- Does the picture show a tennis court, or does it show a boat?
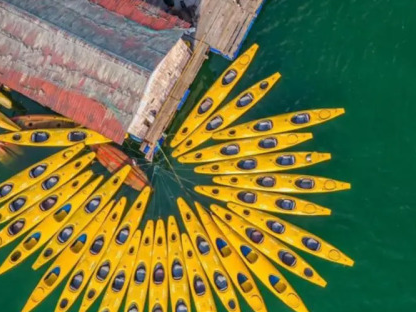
boat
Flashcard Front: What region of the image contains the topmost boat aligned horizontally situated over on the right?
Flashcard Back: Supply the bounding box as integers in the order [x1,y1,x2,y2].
[212,107,345,138]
